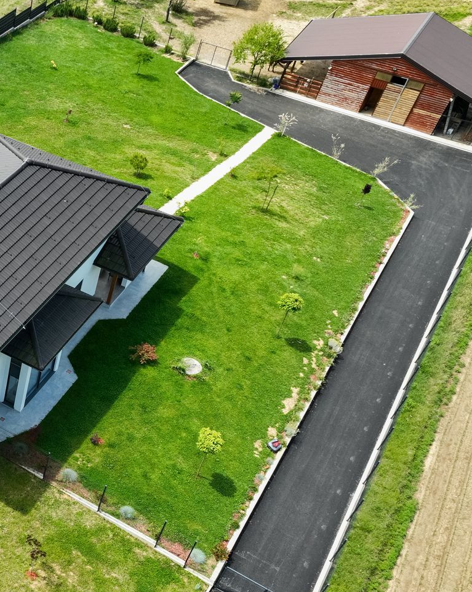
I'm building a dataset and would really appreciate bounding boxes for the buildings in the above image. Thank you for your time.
[277,13,472,144]
[0,138,187,412]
